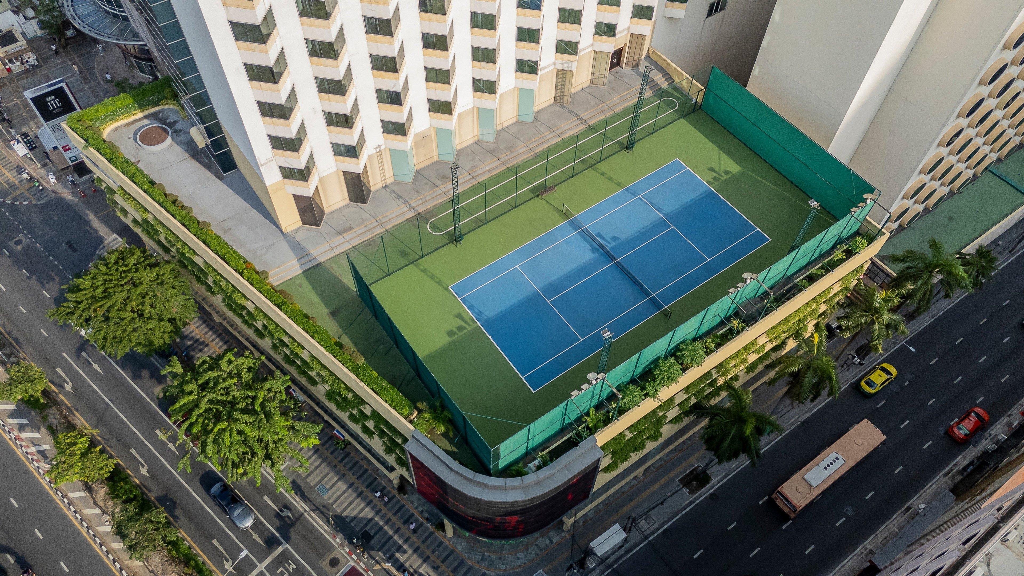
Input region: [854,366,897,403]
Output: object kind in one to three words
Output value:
car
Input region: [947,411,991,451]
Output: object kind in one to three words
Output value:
car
